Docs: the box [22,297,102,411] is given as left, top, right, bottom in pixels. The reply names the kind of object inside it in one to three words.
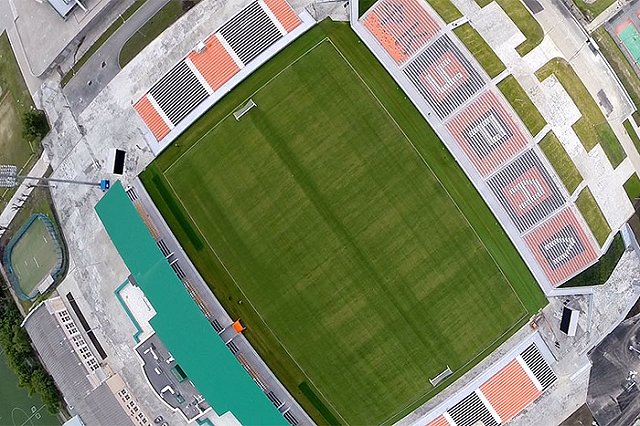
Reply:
building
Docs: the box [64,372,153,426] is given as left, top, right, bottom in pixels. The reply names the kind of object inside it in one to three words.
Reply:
building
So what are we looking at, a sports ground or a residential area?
sports ground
